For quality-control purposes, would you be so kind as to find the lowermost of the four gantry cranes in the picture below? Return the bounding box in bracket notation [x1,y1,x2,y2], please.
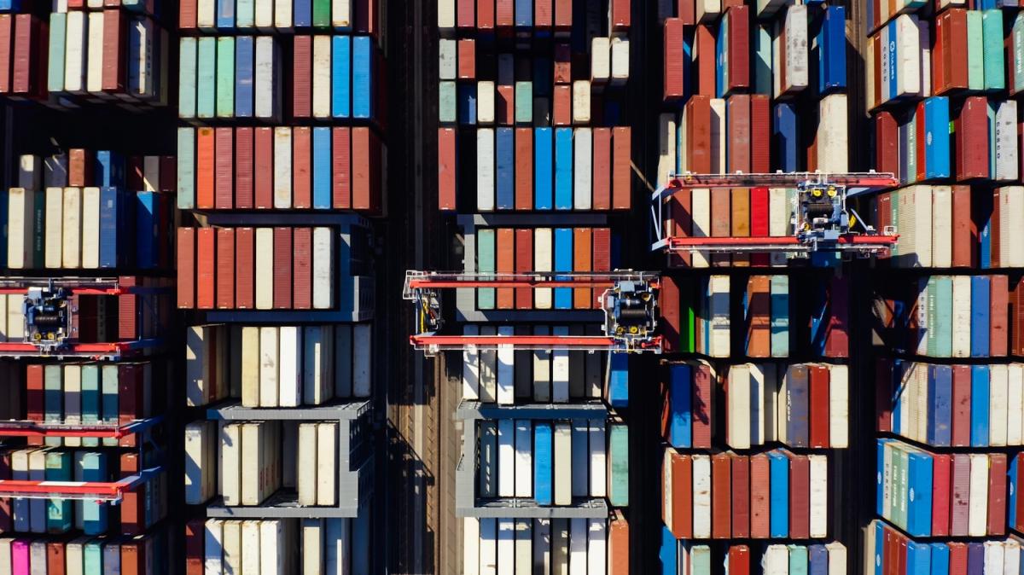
[0,396,191,505]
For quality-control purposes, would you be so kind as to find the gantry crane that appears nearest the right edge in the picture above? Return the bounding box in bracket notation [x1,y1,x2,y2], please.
[642,168,900,264]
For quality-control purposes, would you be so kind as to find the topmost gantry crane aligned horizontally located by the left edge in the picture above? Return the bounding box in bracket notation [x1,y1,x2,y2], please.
[0,274,190,364]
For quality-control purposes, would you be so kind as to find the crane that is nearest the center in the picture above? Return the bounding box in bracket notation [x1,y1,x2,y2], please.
[403,268,662,362]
